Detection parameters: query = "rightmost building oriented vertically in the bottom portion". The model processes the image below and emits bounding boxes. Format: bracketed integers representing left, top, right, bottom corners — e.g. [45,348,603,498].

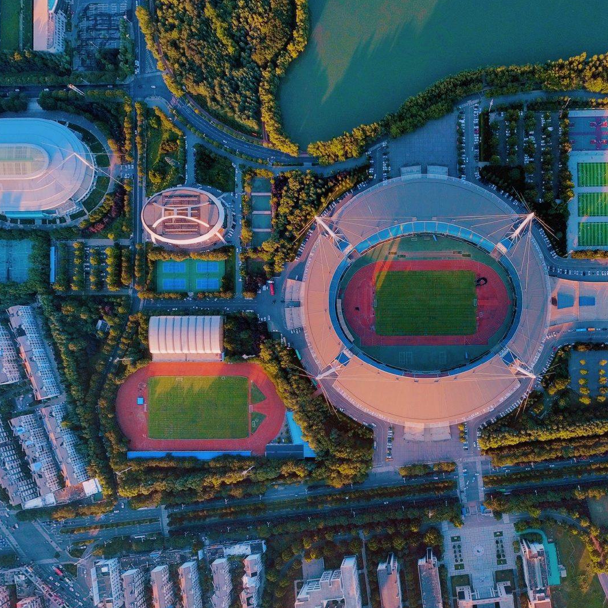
[523,537,550,601]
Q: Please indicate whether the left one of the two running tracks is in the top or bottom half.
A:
bottom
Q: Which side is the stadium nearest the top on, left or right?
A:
left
